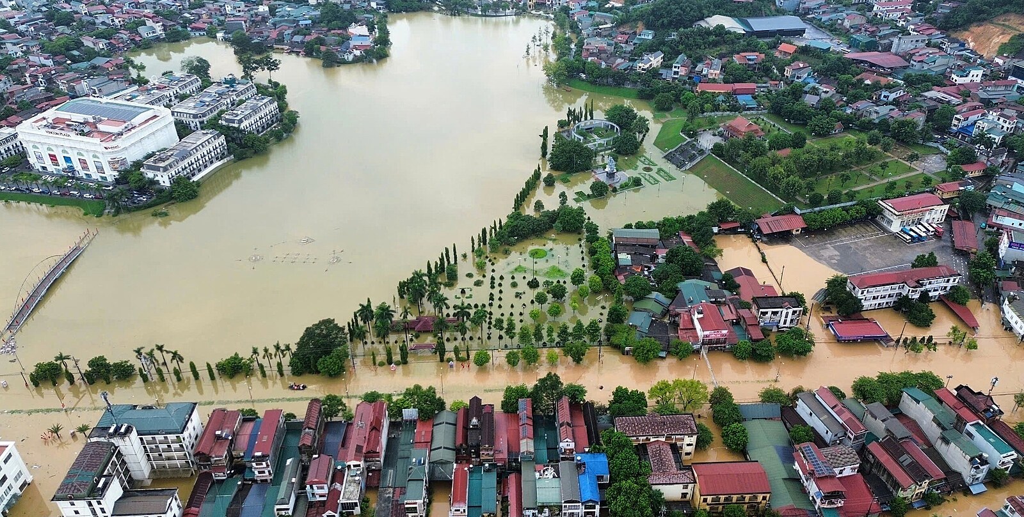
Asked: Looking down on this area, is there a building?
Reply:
Yes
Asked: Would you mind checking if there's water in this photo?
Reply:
Yes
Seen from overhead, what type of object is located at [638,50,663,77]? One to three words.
house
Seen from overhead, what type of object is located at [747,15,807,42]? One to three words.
building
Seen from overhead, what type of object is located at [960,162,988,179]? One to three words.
shed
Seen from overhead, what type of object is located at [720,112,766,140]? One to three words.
building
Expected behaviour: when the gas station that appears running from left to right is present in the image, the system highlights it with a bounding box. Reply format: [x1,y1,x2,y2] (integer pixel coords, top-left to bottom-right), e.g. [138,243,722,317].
[827,319,890,347]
